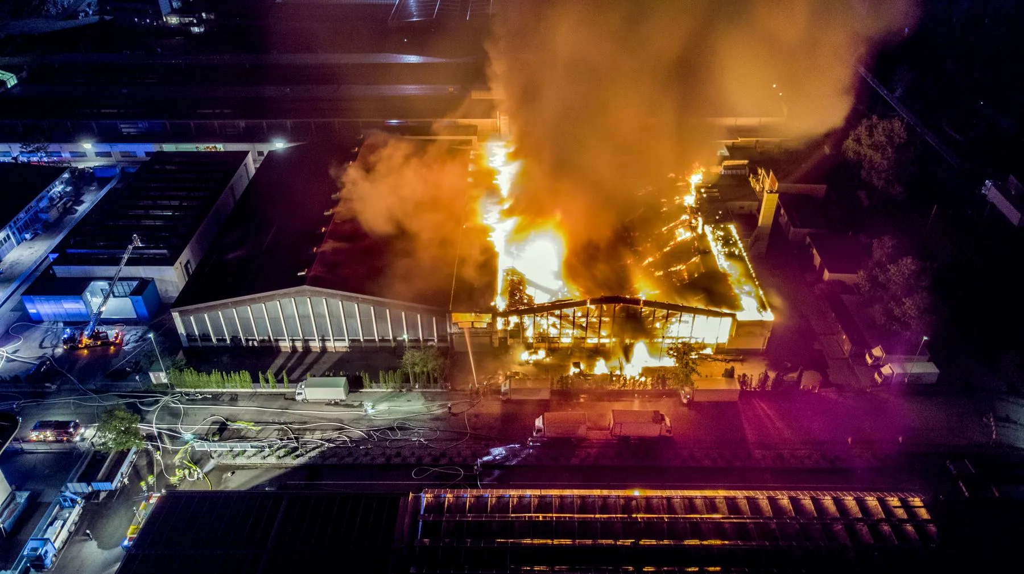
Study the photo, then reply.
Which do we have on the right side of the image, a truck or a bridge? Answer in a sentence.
There is a truck on the right side of the image.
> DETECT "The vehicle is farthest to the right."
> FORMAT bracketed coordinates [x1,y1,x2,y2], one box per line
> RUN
[975,175,1024,219]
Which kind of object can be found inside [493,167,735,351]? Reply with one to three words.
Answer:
building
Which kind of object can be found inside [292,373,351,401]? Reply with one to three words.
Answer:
truck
